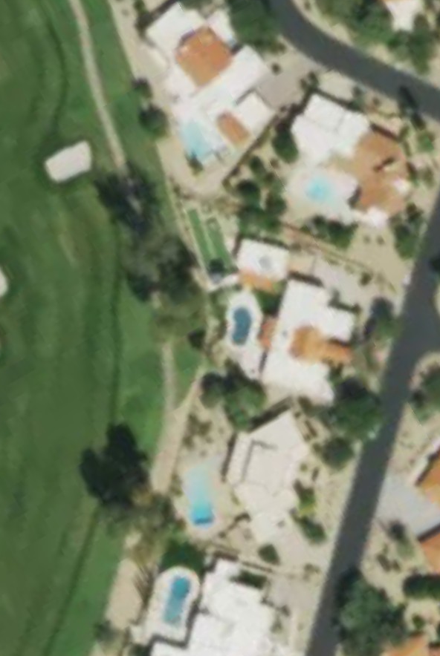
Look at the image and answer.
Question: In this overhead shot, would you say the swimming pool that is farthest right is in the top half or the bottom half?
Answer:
top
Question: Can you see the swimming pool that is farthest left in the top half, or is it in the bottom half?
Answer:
bottom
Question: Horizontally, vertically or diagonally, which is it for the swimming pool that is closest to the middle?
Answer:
vertically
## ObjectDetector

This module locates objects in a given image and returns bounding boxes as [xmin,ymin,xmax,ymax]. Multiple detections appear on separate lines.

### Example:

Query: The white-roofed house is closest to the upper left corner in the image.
[146,3,275,159]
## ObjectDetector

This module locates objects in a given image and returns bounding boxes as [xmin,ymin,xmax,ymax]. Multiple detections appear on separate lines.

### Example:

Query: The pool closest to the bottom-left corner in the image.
[163,574,194,626]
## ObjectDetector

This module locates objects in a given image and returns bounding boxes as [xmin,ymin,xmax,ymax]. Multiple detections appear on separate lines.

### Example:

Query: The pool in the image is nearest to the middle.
[231,305,253,347]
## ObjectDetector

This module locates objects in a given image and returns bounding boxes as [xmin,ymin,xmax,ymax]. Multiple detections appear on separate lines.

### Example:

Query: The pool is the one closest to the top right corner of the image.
[303,175,334,207]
